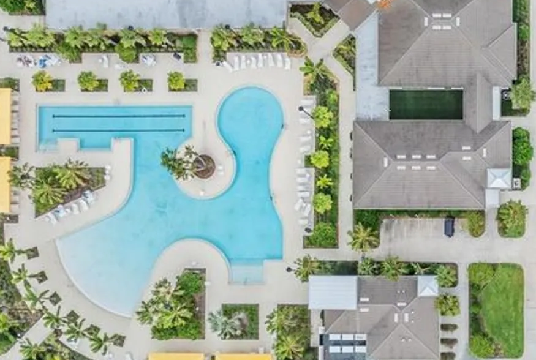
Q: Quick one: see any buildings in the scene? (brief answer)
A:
Yes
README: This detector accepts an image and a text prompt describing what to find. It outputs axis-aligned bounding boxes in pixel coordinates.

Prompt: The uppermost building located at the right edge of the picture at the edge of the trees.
[352,0,517,208]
